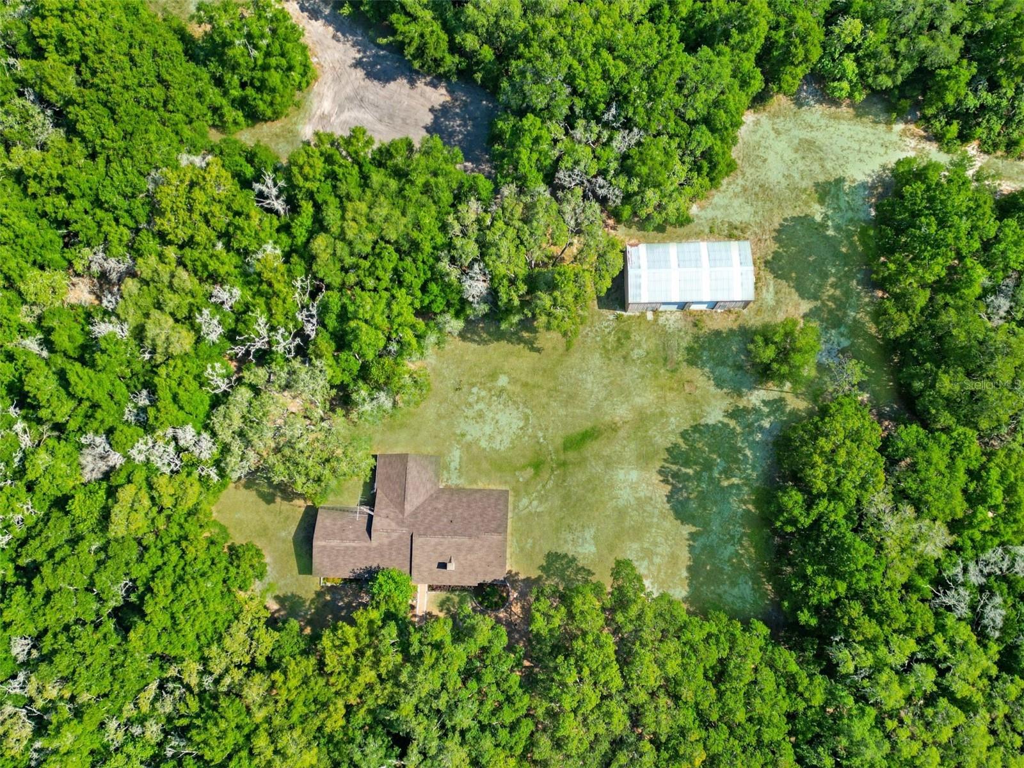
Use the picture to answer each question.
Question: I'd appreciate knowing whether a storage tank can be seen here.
No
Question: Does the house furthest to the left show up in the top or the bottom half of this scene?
bottom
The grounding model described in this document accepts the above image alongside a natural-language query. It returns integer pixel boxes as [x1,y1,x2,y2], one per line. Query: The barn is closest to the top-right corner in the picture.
[623,240,754,312]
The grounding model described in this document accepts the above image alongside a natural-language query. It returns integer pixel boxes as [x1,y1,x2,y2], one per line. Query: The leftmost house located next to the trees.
[312,454,509,586]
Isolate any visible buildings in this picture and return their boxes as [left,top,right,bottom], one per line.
[312,454,509,586]
[623,240,754,312]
